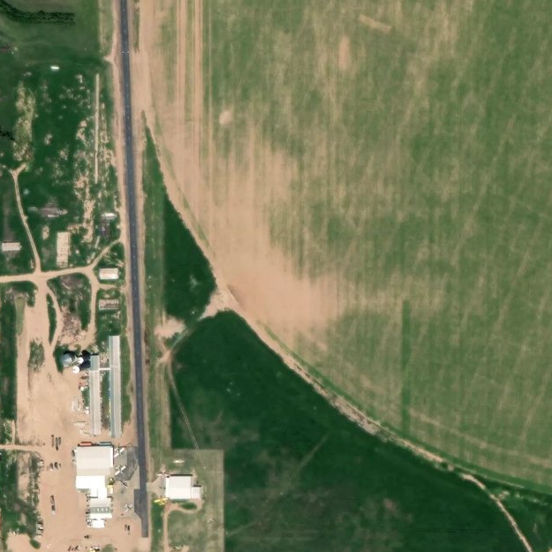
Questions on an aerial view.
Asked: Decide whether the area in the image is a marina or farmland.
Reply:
farmland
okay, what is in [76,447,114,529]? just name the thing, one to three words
hangar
